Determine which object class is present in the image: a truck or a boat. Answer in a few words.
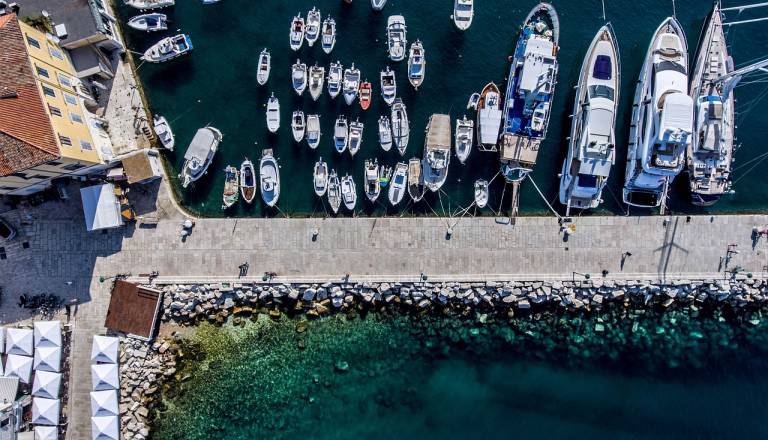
boat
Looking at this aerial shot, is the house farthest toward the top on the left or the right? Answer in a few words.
left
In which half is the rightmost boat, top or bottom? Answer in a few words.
top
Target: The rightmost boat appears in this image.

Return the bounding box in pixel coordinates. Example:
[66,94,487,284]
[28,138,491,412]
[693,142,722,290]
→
[684,0,768,209]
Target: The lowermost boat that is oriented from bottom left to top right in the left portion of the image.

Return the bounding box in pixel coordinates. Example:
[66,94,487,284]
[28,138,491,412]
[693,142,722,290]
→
[178,125,226,188]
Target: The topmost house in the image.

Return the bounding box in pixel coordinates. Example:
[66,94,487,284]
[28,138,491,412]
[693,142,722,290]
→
[0,0,122,82]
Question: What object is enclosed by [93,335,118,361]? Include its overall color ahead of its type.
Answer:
white umbrella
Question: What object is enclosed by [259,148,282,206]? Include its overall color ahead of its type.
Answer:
white boat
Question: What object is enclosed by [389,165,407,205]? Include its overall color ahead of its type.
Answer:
white boat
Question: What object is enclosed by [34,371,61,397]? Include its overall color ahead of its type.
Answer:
white umbrella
